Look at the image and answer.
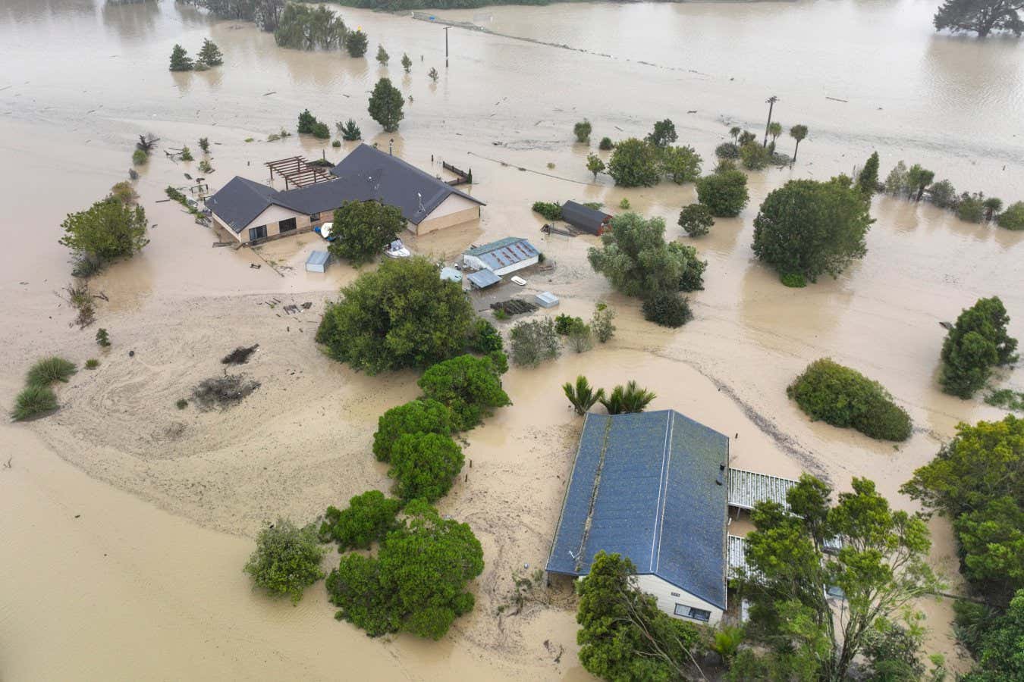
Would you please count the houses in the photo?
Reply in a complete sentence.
My tally gives 2 houses in this view.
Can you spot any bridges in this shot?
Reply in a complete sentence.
No, there is no bridge in the image.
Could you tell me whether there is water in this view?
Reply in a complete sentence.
Yes, water can be seen from above here.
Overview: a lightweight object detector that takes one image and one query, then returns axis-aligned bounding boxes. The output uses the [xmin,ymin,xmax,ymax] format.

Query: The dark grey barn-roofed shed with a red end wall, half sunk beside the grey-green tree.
[561,205,618,239]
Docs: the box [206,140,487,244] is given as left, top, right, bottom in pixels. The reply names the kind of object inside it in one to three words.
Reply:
house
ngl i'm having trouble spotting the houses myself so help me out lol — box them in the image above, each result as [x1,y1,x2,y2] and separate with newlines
[541,408,817,626]
[206,140,487,244]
